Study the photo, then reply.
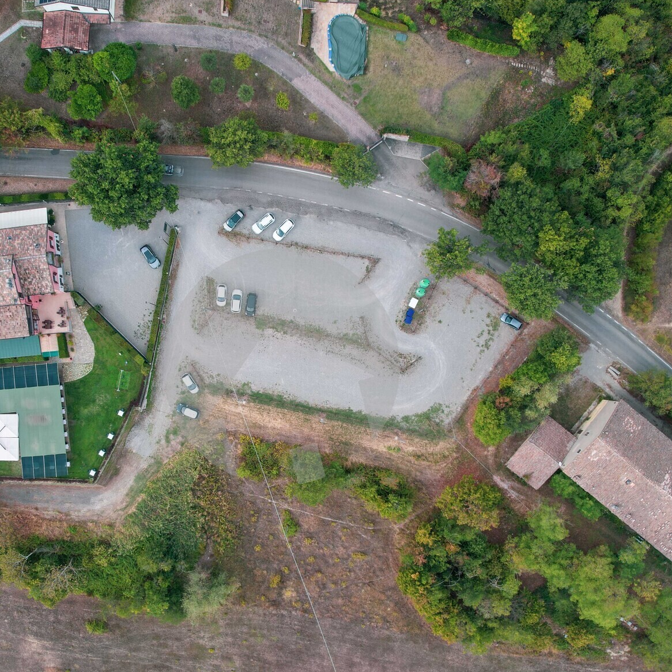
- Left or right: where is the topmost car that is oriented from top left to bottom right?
left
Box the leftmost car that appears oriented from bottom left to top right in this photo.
[224,208,245,232]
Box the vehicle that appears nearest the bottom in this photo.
[176,404,201,420]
